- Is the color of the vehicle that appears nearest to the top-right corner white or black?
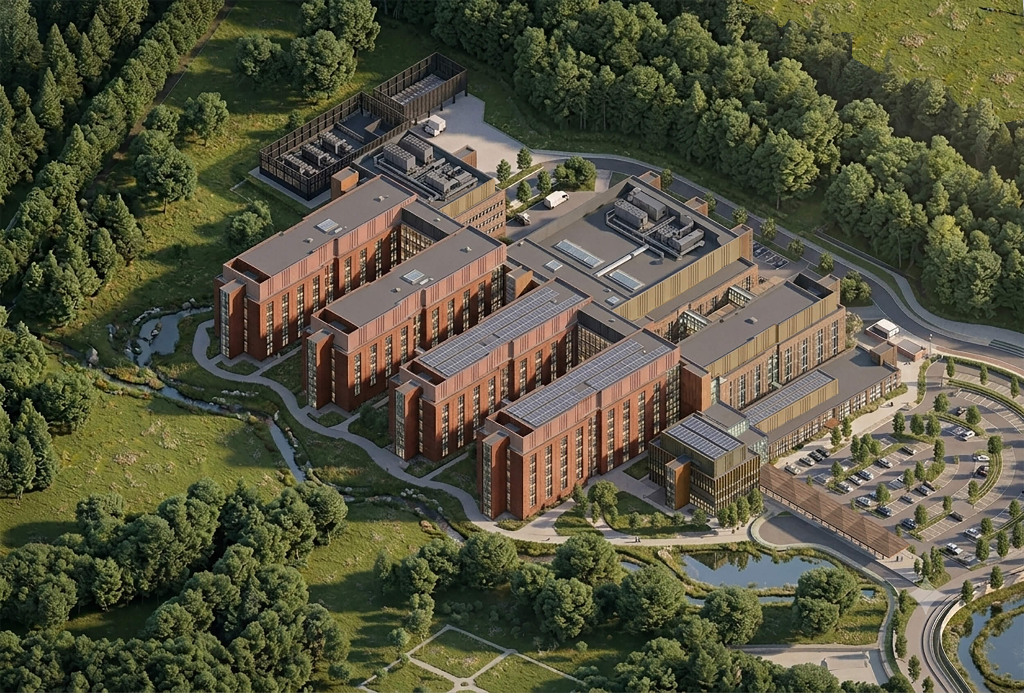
white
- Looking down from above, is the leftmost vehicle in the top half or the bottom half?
top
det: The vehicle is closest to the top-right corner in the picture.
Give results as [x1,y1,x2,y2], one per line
[873,320,897,340]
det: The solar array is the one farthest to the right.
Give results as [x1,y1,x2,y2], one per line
[749,375,832,426]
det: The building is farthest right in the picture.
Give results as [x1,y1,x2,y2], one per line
[896,339,926,365]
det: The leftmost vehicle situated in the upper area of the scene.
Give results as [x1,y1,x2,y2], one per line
[425,115,445,137]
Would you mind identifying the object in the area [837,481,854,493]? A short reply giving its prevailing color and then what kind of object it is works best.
white vehicle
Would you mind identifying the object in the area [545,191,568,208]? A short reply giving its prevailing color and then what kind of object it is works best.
white vehicle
